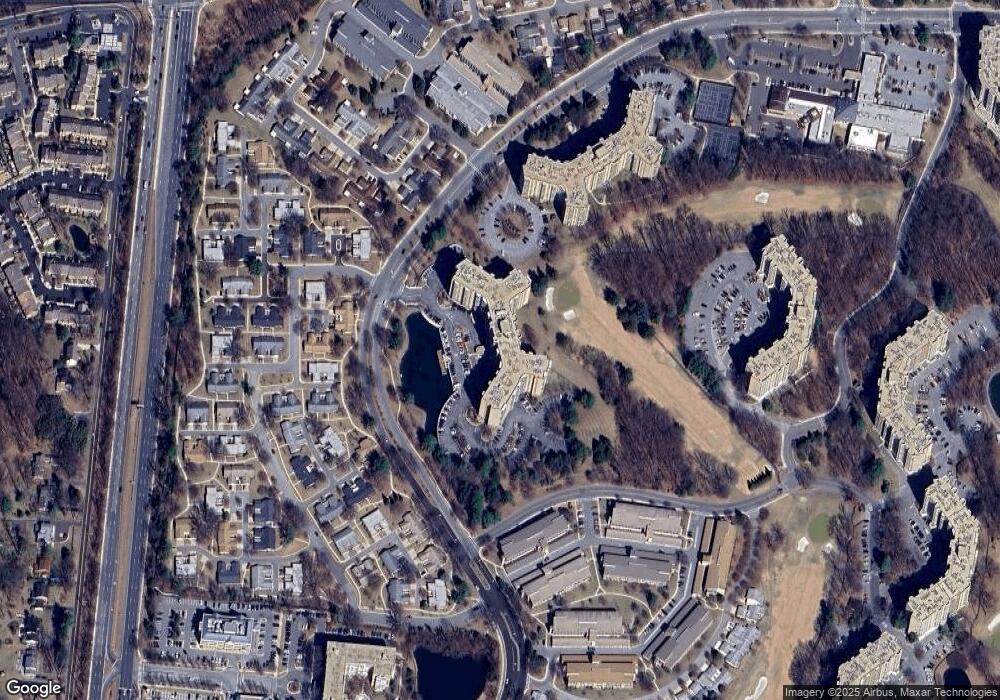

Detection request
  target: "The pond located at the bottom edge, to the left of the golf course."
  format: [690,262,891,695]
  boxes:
[414,644,494,700]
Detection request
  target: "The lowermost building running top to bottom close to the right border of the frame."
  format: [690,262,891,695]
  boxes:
[903,476,981,642]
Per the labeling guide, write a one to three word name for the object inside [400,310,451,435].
pond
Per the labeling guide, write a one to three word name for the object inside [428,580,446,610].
house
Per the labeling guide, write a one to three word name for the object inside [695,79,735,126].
tennis court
